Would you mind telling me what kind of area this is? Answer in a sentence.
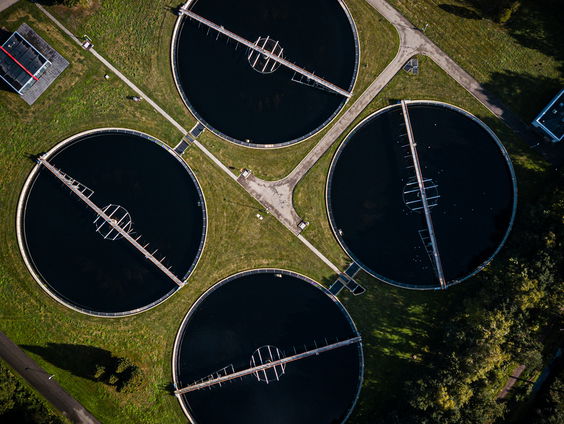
This image shows an industrial area.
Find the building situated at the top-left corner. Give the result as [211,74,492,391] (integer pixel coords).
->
[0,31,52,95]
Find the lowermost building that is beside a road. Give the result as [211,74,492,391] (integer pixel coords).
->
[533,87,564,142]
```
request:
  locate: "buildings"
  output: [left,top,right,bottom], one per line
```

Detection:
[533,87,564,142]
[0,31,52,95]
